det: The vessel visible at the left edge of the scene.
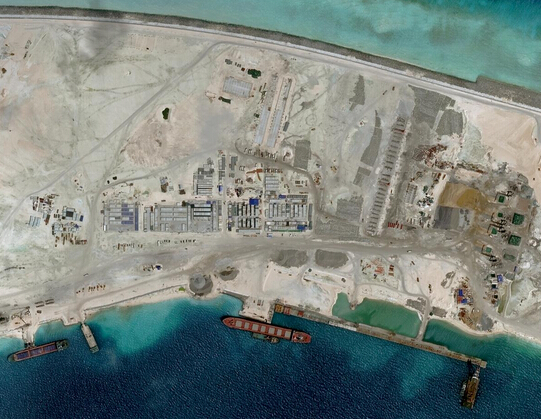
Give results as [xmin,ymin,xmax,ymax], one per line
[8,341,68,361]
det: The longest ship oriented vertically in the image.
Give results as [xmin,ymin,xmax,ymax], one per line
[464,368,480,408]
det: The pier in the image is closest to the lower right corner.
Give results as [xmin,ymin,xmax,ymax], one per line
[274,301,487,369]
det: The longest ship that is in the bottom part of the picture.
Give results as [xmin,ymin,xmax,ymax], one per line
[221,311,312,344]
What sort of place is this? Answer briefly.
port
